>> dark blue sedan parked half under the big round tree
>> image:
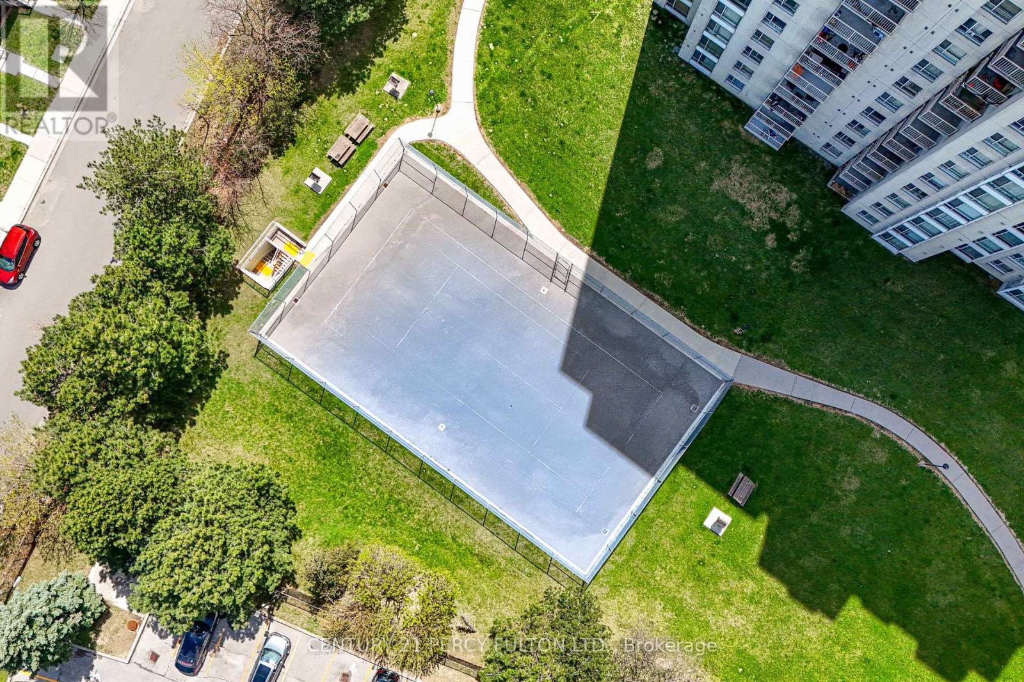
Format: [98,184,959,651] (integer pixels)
[173,604,224,678]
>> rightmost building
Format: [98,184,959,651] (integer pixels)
[653,0,1024,315]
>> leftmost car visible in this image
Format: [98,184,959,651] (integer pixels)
[0,222,39,282]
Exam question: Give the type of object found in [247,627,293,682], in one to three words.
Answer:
car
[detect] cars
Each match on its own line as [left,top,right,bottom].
[247,627,293,682]
[0,222,39,282]
[371,657,404,682]
[173,604,224,678]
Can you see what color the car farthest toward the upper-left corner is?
red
